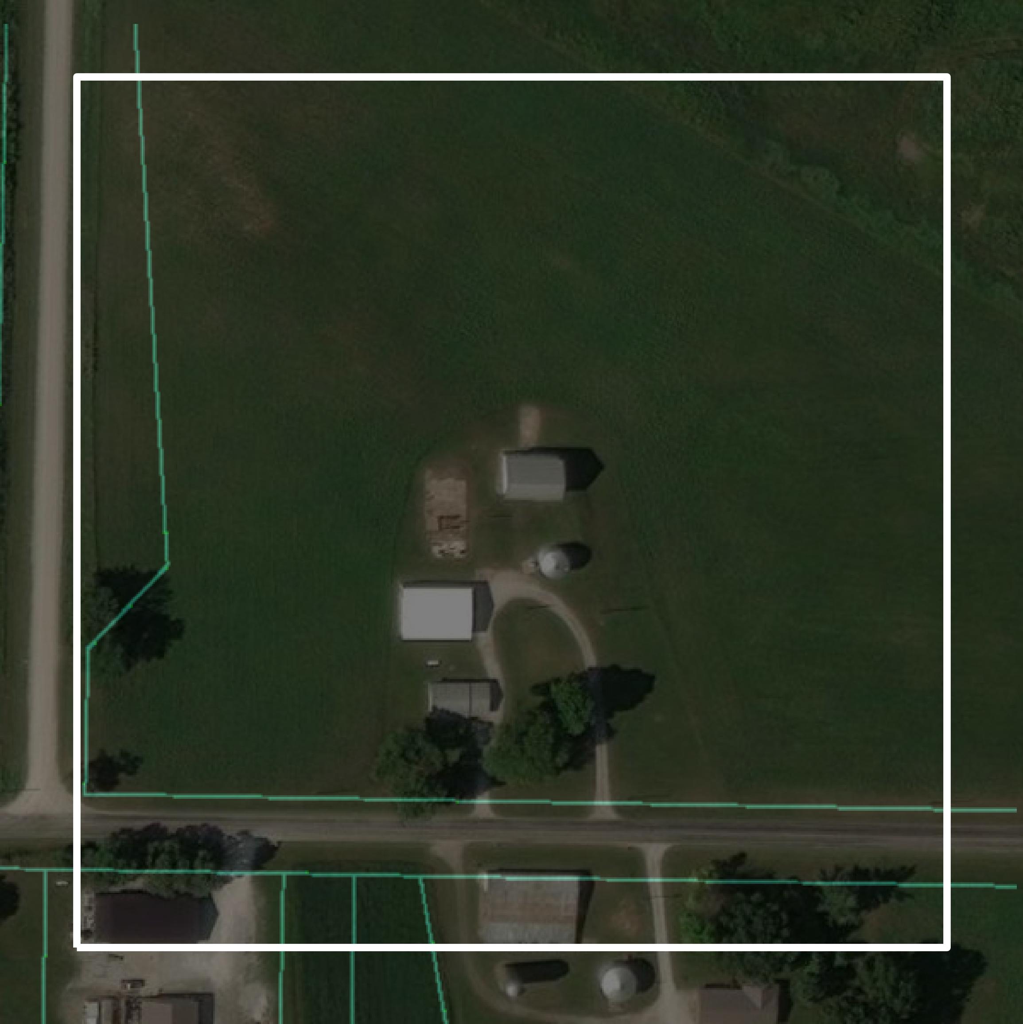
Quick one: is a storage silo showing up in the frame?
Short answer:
Yes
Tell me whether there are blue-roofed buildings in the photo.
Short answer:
No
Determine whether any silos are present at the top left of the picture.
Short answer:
No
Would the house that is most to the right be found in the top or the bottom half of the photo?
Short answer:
bottom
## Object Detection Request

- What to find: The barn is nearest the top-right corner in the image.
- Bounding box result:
[501,446,568,500]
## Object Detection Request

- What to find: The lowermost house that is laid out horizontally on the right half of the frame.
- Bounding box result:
[699,985,781,1024]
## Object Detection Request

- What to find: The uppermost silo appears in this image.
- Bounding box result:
[536,544,570,579]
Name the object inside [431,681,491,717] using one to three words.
shed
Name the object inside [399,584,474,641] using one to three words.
shed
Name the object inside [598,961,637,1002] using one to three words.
silo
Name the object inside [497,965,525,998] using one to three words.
silo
